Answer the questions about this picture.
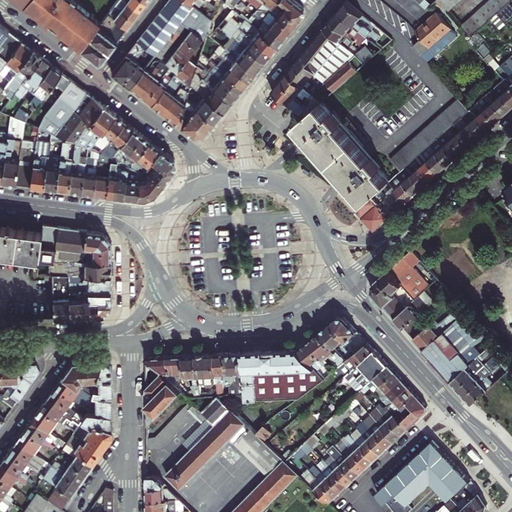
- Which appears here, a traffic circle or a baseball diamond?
traffic circle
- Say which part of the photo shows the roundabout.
center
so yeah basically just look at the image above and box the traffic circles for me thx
[104,148,369,348]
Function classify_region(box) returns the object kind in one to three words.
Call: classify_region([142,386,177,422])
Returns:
house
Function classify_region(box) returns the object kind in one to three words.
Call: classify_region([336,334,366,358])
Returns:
shed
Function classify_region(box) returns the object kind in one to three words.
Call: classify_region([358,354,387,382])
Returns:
building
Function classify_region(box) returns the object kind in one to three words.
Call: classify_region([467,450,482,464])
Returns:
vehicle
